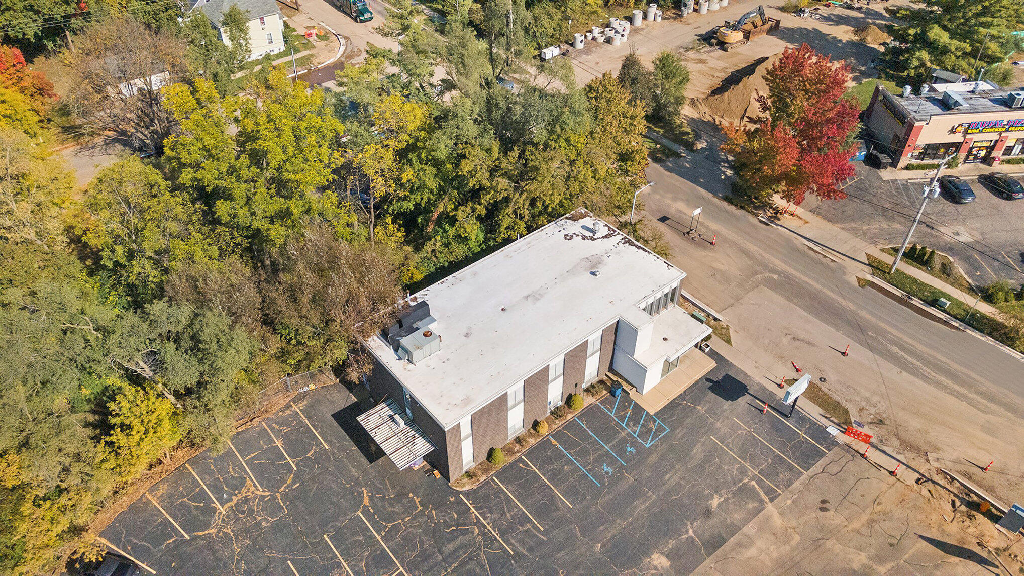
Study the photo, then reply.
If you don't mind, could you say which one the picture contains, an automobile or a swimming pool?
automobile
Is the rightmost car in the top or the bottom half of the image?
top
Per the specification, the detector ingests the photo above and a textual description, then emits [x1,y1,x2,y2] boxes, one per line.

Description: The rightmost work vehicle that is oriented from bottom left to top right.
[710,0,762,48]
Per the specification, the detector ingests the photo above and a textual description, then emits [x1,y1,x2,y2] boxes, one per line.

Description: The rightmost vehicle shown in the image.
[984,174,1021,198]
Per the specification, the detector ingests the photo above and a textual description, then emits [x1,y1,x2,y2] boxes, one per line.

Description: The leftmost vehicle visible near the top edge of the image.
[324,0,372,22]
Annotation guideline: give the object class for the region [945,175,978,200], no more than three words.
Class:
car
